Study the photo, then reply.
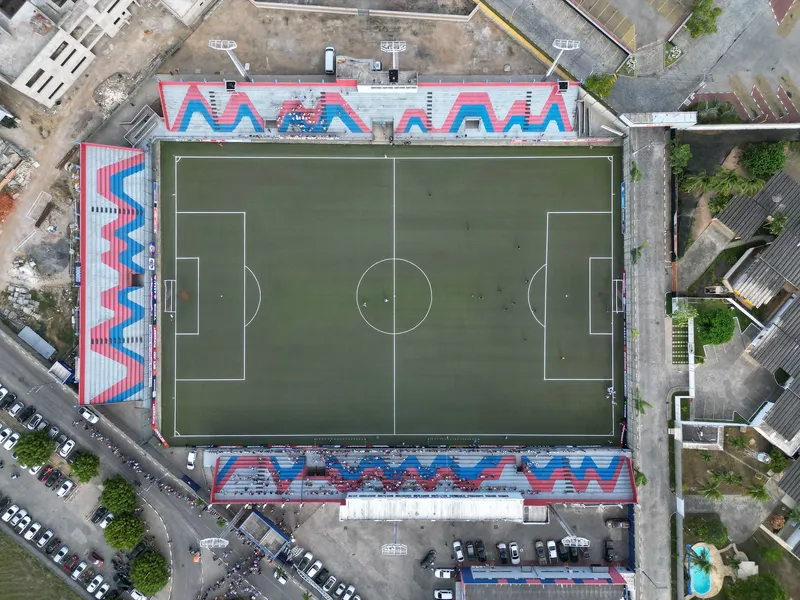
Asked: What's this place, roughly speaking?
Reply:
sports ground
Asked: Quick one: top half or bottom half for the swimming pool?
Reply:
bottom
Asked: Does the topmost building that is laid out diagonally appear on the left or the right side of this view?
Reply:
left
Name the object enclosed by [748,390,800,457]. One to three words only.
house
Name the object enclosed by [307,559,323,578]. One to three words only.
car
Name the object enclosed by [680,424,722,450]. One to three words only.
shed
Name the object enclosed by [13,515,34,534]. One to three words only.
vehicle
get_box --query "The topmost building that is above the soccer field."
[161,0,217,30]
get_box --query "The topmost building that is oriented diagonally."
[12,0,142,110]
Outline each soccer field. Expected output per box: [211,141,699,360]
[159,142,622,447]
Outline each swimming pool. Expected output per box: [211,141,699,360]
[687,542,724,600]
